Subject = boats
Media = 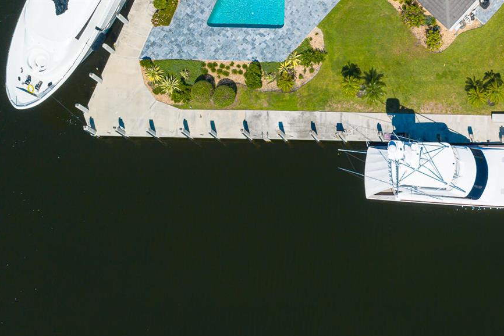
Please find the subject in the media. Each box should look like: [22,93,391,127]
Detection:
[338,127,504,208]
[2,0,137,109]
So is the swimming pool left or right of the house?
left of it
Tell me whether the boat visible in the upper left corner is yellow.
No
